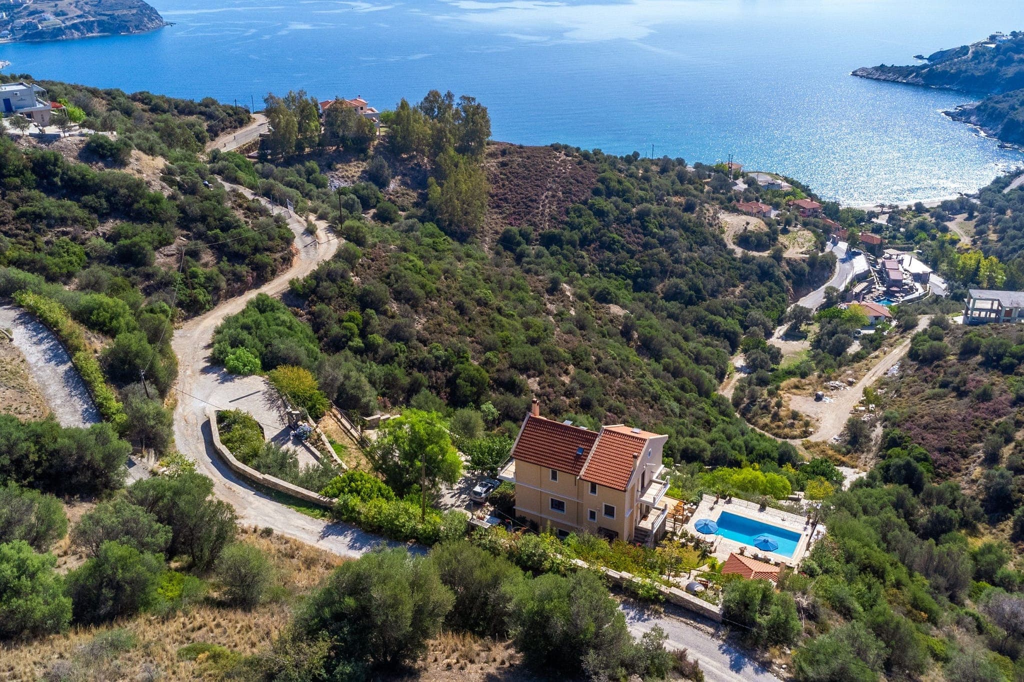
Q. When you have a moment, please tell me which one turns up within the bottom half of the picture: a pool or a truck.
pool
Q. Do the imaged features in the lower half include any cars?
Yes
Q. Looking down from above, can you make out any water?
Yes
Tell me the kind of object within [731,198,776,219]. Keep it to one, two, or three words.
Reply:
house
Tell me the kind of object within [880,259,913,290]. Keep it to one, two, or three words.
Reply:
building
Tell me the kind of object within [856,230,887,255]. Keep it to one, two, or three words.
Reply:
house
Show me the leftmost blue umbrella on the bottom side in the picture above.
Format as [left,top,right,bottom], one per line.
[694,517,718,536]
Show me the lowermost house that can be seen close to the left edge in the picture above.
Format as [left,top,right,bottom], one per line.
[0,87,62,126]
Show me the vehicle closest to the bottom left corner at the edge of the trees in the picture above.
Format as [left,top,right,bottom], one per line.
[468,475,501,502]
